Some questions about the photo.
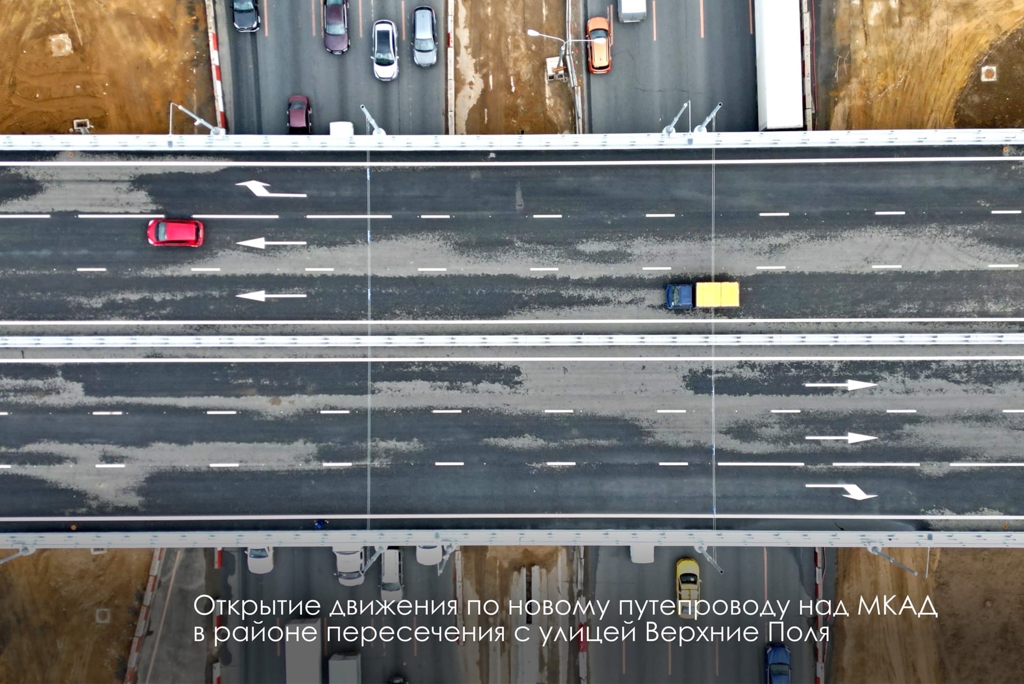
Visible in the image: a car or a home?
car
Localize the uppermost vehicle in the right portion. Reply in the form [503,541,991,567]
[616,0,646,25]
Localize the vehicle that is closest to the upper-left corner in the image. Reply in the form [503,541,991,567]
[228,0,260,34]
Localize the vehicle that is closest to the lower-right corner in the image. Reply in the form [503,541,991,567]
[765,643,795,684]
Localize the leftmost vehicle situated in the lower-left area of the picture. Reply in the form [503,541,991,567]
[243,548,274,574]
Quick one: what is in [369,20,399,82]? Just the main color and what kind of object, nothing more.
white car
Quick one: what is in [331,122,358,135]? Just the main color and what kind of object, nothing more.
white vehicle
